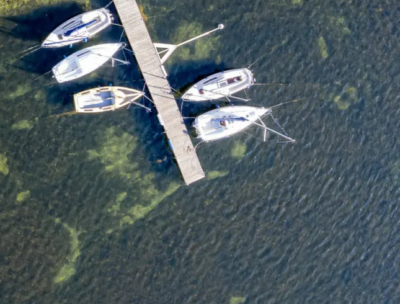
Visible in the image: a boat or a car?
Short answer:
boat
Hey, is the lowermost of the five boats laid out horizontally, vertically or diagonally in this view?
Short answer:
horizontally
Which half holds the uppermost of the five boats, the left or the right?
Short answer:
left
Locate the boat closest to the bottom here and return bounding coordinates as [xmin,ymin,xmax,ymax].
[185,99,300,143]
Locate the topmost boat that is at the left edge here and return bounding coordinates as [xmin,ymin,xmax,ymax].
[19,2,117,56]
